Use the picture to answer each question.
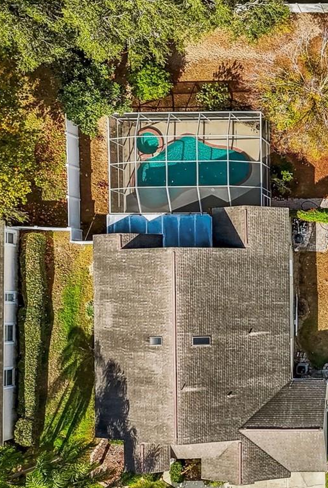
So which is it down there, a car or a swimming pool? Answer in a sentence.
I can see a swimming pool in this picture.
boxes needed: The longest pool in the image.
[132,133,254,210]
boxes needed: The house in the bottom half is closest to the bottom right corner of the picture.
[92,206,328,485]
